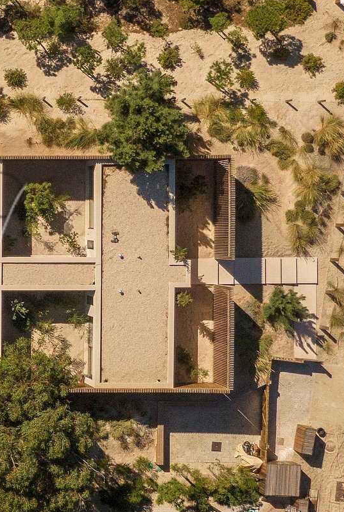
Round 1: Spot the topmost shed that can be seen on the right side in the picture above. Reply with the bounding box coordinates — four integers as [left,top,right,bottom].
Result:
[293,422,317,455]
